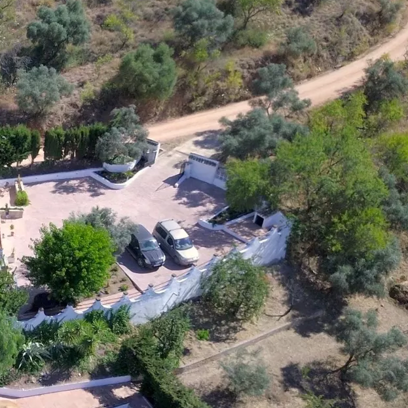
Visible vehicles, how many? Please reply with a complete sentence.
Looking from above, you can make out 2 vehicles.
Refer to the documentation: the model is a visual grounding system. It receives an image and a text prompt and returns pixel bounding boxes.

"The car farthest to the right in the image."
[157,220,198,262]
